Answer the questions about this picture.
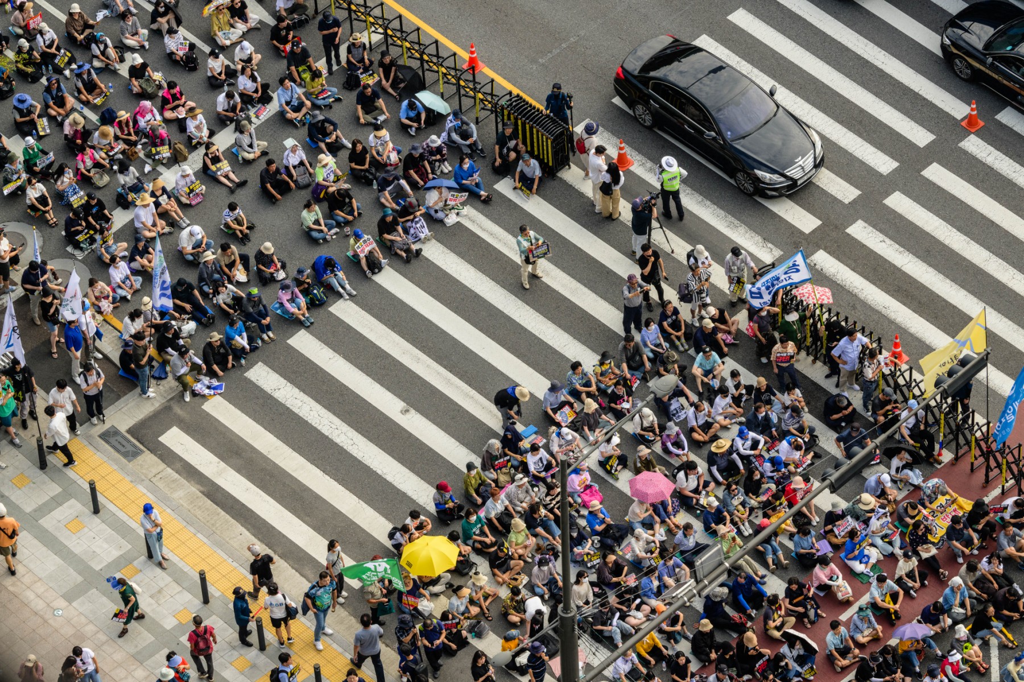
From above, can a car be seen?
Yes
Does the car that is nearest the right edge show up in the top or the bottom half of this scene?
top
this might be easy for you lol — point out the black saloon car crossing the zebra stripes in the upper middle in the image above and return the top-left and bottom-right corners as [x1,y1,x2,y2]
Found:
[615,33,828,200]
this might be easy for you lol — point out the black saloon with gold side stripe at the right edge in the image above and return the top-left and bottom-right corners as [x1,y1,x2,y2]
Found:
[938,5,1024,117]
